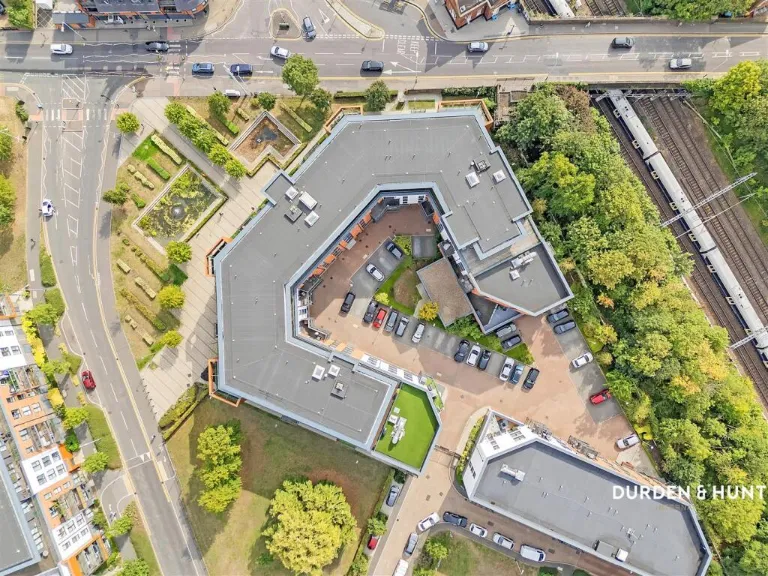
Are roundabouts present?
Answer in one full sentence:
No, there appears to be no roundabout in this shot.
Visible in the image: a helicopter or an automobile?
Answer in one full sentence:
The image shows an automobile.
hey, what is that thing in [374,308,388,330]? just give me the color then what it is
red car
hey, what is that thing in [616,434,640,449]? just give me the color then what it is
white car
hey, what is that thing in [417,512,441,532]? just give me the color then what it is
white car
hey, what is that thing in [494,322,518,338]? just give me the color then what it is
gray car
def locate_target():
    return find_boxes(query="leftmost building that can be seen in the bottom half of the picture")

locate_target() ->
[0,284,122,576]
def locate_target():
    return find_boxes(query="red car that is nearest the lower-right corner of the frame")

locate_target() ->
[589,388,612,405]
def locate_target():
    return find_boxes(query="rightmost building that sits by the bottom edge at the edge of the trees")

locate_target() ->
[464,409,711,576]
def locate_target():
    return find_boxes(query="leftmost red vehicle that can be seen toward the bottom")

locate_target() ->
[80,370,97,392]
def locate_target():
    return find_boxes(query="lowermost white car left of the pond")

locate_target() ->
[40,197,54,219]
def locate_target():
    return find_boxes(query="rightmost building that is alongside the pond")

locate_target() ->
[206,100,574,476]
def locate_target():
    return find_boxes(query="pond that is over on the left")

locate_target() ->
[132,165,226,252]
